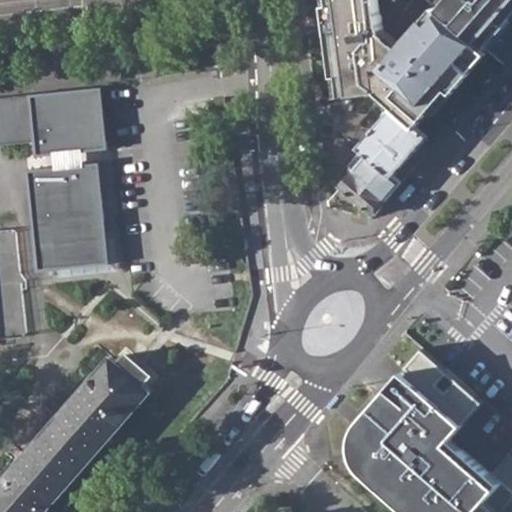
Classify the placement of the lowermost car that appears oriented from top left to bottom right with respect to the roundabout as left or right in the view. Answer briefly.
on its right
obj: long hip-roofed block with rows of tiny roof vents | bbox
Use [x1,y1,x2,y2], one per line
[0,358,149,512]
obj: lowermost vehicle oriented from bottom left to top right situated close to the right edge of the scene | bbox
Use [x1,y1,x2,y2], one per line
[483,412,502,432]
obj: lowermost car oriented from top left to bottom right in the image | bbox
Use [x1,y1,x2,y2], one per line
[478,258,500,278]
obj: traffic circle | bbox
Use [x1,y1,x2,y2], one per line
[258,238,445,414]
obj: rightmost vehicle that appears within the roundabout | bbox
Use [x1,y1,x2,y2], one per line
[361,256,382,274]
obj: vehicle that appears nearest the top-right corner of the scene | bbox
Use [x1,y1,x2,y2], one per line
[490,108,508,127]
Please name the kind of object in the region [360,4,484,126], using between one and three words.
building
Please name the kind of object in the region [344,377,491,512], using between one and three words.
building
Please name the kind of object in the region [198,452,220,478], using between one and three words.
vehicle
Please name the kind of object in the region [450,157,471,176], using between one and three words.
car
